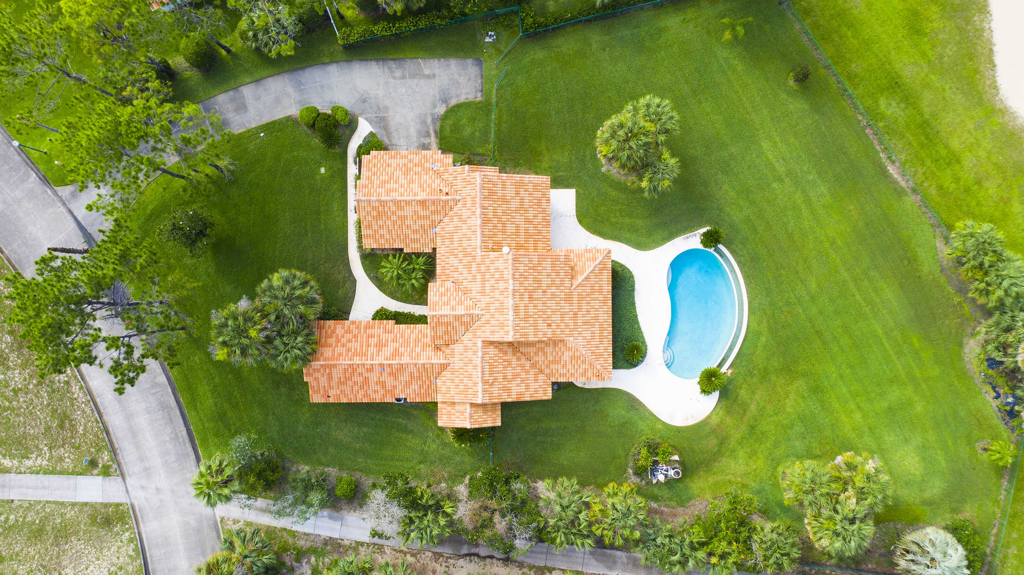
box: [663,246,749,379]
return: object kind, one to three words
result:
swimming pool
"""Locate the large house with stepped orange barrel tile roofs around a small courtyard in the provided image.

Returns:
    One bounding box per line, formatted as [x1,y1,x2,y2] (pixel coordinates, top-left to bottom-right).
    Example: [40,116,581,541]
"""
[304,150,613,429]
